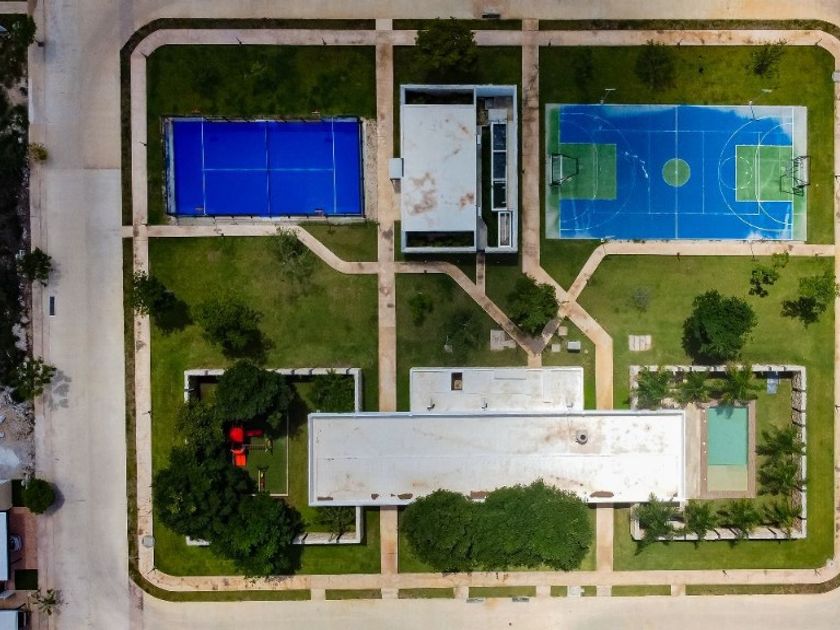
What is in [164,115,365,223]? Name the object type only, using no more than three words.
sports court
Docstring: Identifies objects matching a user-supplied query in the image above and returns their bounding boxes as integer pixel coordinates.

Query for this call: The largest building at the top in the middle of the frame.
[390,85,517,254]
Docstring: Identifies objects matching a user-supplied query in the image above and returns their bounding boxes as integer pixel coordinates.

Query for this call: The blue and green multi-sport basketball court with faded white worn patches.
[546,103,807,241]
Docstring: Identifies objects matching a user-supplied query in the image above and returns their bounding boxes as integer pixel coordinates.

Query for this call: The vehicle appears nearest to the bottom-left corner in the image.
[7,532,26,550]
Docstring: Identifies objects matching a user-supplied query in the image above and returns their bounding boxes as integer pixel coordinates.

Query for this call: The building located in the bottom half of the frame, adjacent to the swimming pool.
[308,367,685,505]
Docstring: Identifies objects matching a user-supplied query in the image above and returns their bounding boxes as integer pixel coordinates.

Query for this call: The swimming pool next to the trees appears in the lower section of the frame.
[684,402,756,499]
